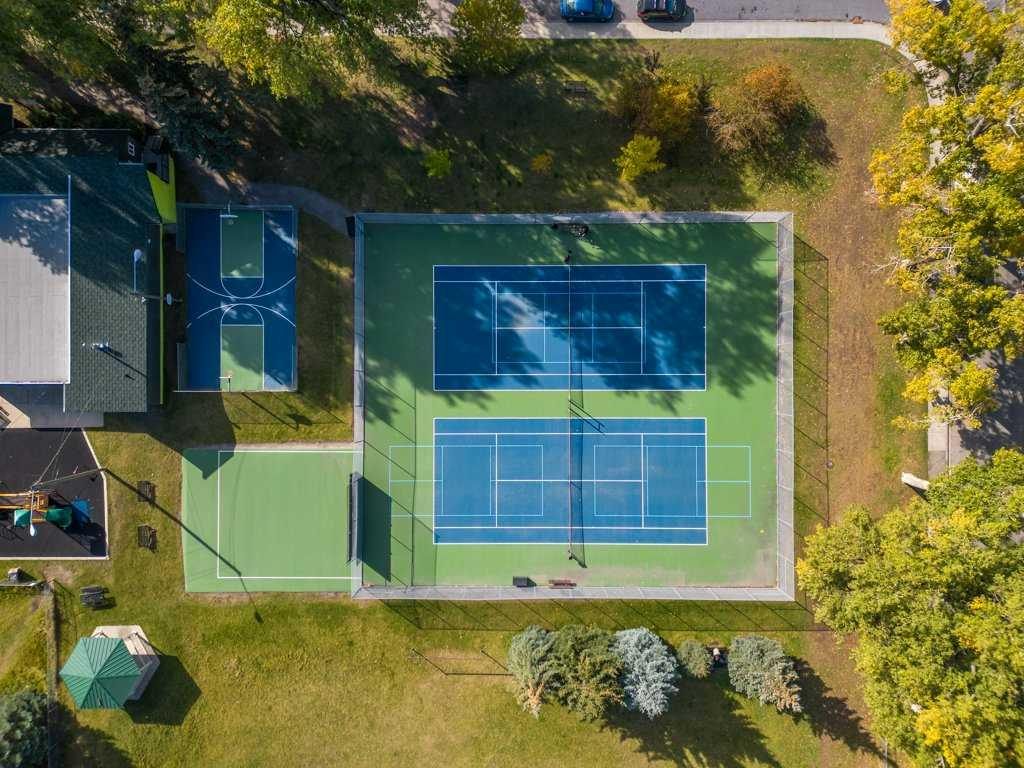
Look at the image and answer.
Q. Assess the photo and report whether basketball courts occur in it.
Yes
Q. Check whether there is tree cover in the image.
Yes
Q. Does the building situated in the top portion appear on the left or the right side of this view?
left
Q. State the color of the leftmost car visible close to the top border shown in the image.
blue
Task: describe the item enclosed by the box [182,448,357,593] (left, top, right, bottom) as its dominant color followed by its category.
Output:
green sports court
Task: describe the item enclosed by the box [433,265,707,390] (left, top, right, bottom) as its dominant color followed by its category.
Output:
blue tennis court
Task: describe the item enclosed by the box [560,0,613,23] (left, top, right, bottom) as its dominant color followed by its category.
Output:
blue car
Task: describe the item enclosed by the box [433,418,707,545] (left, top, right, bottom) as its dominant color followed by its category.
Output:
blue tennis court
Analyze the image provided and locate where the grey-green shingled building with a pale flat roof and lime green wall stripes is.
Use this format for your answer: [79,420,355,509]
[0,104,188,412]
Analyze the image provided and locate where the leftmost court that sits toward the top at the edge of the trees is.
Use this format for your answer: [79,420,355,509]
[184,207,297,391]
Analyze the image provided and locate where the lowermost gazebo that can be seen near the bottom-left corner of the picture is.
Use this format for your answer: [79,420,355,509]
[57,627,159,712]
